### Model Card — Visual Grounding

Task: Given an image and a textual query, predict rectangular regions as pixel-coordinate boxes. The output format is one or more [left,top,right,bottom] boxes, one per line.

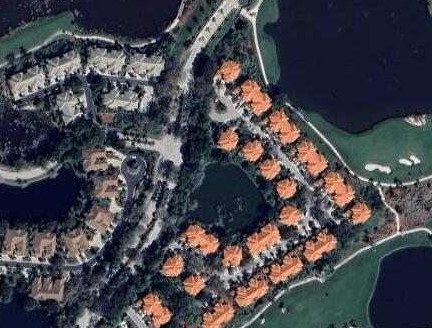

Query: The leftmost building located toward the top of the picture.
[7,69,45,96]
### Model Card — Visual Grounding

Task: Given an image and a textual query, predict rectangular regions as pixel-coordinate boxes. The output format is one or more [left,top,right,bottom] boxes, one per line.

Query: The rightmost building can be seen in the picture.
[348,203,372,226]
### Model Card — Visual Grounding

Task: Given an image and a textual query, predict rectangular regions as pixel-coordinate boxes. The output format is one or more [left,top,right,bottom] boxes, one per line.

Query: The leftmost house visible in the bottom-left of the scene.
[2,230,26,257]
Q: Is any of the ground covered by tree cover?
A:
Yes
